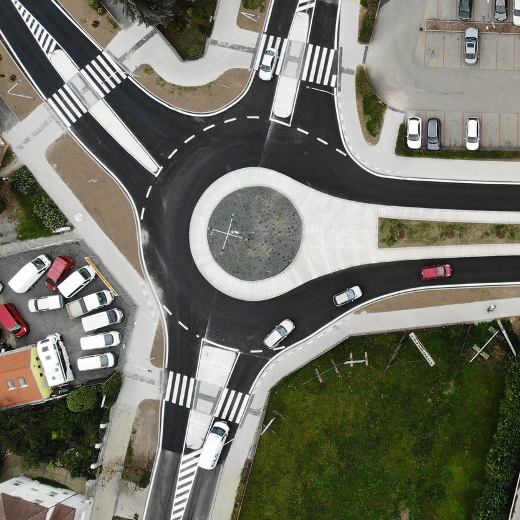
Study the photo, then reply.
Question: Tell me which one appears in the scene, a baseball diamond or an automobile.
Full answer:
There is an automobile in the scene.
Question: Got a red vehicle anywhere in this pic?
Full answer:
Yes, there's a red vehicle down there.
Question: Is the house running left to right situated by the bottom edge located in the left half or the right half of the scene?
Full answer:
The house running left to right situated by the bottom edge sits on the left side.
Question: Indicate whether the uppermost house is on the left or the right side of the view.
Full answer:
You can find the uppermost house on the left side of the picture.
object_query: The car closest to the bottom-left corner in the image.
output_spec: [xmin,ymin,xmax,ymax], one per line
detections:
[55,383,74,397]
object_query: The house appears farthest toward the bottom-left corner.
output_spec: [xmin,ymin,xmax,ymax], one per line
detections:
[0,470,104,520]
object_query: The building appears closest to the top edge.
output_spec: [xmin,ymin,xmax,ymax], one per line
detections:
[0,348,49,412]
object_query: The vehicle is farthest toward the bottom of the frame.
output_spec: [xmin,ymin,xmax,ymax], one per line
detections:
[196,418,229,472]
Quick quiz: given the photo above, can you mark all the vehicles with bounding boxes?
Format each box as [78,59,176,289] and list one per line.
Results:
[55,383,74,397]
[2,254,55,296]
[196,418,229,472]
[332,285,363,307]
[509,0,520,25]
[492,0,509,21]
[463,28,480,64]
[457,0,473,20]
[263,319,296,348]
[0,300,28,338]
[258,47,279,82]
[405,116,422,148]
[76,331,125,351]
[63,291,117,319]
[28,294,68,311]
[77,308,127,332]
[421,263,452,279]
[37,333,74,389]
[54,262,99,300]
[74,352,118,370]
[464,117,480,151]
[44,254,75,290]
[425,118,442,151]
